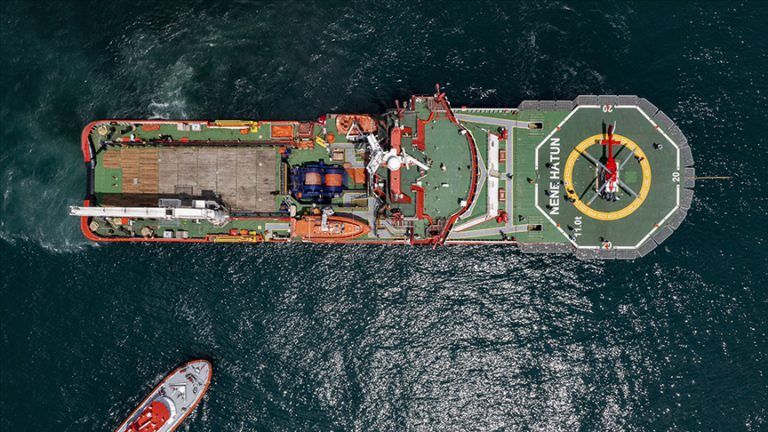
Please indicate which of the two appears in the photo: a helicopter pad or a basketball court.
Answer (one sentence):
The image shows a helicopter pad.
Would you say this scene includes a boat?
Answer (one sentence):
Yes, there's a boat down there.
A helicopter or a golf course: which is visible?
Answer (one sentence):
The one in the frame is a helicopter.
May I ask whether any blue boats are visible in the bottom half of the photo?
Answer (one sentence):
No, I can find no blue boat in the bottom half of the photo.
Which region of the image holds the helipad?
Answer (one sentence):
The helipad is in the right part of the image.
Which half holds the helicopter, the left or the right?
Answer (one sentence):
It is on the right.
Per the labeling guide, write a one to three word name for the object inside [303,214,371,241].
boat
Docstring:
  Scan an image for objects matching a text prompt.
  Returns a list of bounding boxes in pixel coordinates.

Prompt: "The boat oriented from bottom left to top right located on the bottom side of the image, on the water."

[118,360,212,432]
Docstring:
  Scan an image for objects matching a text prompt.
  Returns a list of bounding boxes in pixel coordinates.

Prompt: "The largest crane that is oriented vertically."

[367,136,385,201]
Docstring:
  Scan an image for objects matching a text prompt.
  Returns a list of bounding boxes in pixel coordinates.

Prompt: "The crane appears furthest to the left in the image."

[69,198,232,225]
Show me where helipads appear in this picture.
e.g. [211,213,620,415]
[518,95,695,258]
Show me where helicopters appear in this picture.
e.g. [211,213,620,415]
[584,118,638,206]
